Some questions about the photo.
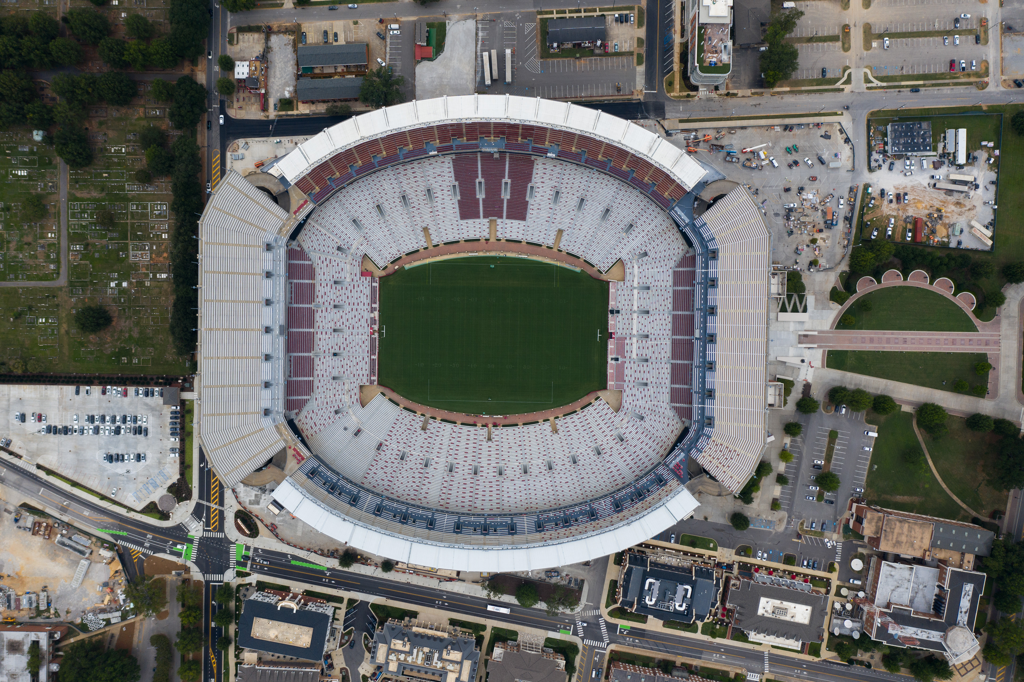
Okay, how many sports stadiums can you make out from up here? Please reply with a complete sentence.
I count 1 sports stadium.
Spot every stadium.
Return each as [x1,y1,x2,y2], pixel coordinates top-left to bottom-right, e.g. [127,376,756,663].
[189,91,778,574]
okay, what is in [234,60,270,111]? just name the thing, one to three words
building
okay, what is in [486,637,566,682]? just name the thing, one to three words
house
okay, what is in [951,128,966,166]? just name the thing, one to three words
building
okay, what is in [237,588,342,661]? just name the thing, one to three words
house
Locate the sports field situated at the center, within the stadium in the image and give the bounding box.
[378,257,608,416]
